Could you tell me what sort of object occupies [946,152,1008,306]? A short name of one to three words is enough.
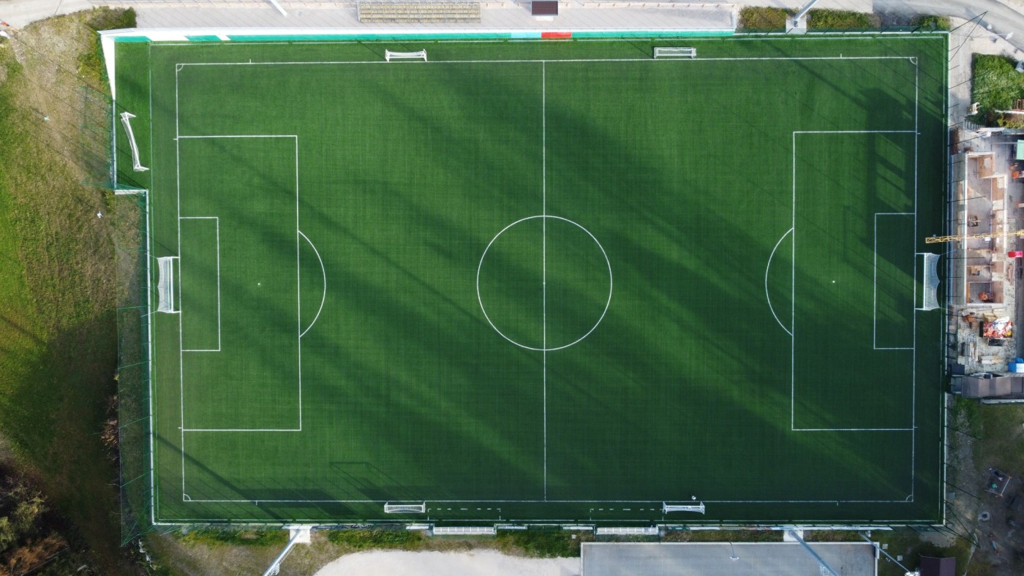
building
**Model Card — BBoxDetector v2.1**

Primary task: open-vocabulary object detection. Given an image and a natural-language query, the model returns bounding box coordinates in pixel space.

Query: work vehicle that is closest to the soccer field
[964,102,984,117]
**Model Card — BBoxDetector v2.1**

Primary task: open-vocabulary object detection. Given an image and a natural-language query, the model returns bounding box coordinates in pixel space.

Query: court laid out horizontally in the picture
[581,541,879,576]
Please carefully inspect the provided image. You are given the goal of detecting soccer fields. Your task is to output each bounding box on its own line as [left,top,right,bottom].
[115,34,947,524]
